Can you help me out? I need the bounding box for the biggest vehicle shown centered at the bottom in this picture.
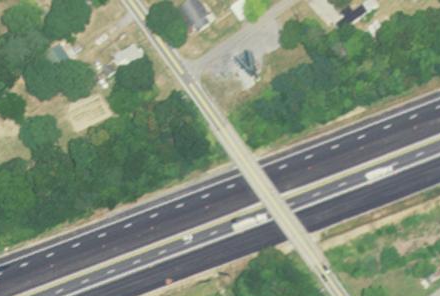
[232,212,267,229]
